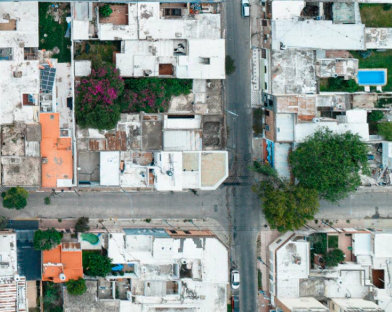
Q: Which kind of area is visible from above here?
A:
residential area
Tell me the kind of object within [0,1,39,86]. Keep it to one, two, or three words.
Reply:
house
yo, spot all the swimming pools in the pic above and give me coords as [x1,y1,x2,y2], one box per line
[79,233,103,249]
[357,69,388,87]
